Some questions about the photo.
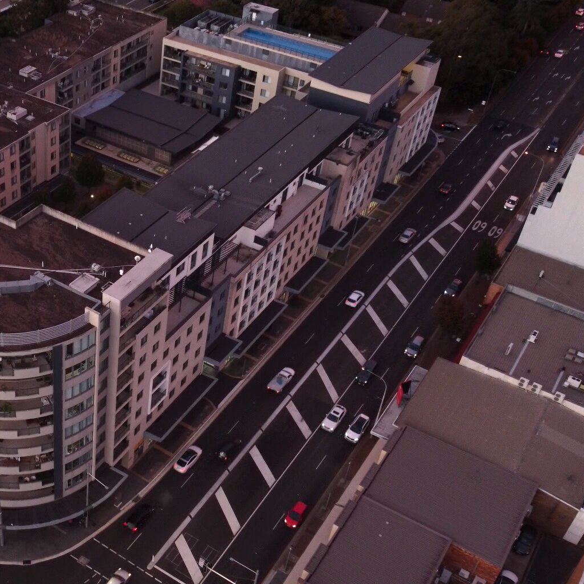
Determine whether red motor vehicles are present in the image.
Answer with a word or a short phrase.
Yes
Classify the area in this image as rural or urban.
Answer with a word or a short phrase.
urban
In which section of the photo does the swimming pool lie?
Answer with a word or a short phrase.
top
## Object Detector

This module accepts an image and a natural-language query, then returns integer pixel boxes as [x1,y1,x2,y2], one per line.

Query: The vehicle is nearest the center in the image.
[344,290,366,310]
